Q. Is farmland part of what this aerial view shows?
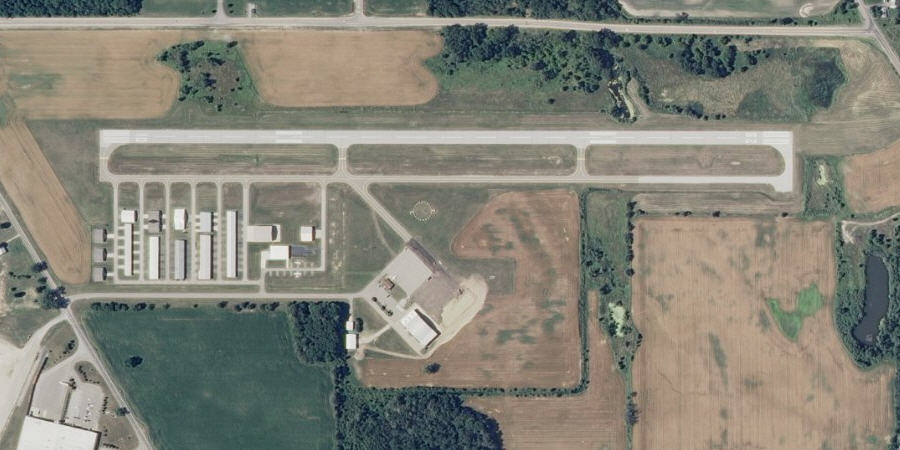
Yes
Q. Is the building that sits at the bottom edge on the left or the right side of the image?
left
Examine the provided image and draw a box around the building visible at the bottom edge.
[17,417,98,450]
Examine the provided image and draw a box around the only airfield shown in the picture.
[99,129,793,356]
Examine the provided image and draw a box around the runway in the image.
[99,129,793,145]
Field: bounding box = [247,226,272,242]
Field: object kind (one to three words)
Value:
hangar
